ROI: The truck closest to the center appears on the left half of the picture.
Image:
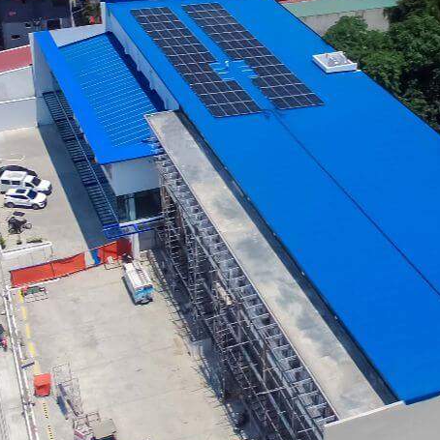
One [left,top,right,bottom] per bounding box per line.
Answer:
[119,248,154,299]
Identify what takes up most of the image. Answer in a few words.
buildings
